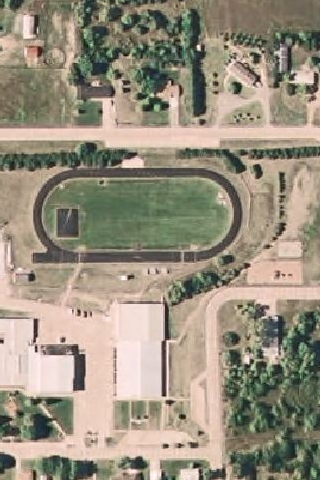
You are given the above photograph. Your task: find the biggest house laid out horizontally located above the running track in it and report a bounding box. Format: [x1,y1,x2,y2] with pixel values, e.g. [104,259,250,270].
[78,84,114,98]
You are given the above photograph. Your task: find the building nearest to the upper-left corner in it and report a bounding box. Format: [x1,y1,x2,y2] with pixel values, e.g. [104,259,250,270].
[23,14,37,39]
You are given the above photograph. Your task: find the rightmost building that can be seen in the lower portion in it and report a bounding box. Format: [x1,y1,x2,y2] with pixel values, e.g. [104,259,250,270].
[264,316,279,356]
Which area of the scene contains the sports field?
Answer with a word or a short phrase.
center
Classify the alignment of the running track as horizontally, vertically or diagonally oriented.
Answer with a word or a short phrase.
horizontally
